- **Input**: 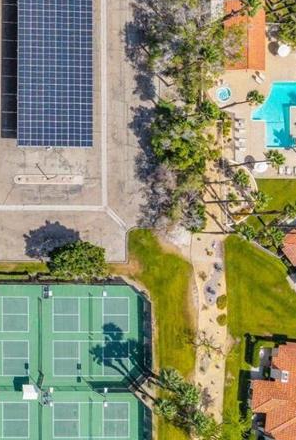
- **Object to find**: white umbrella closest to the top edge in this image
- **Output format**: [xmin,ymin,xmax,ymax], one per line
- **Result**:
[275,44,291,57]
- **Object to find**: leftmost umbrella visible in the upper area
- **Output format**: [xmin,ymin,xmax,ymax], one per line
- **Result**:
[251,161,266,173]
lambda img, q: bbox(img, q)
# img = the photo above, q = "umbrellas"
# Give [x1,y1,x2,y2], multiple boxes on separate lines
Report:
[251,161,266,173]
[275,44,291,57]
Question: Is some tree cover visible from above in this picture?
Yes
